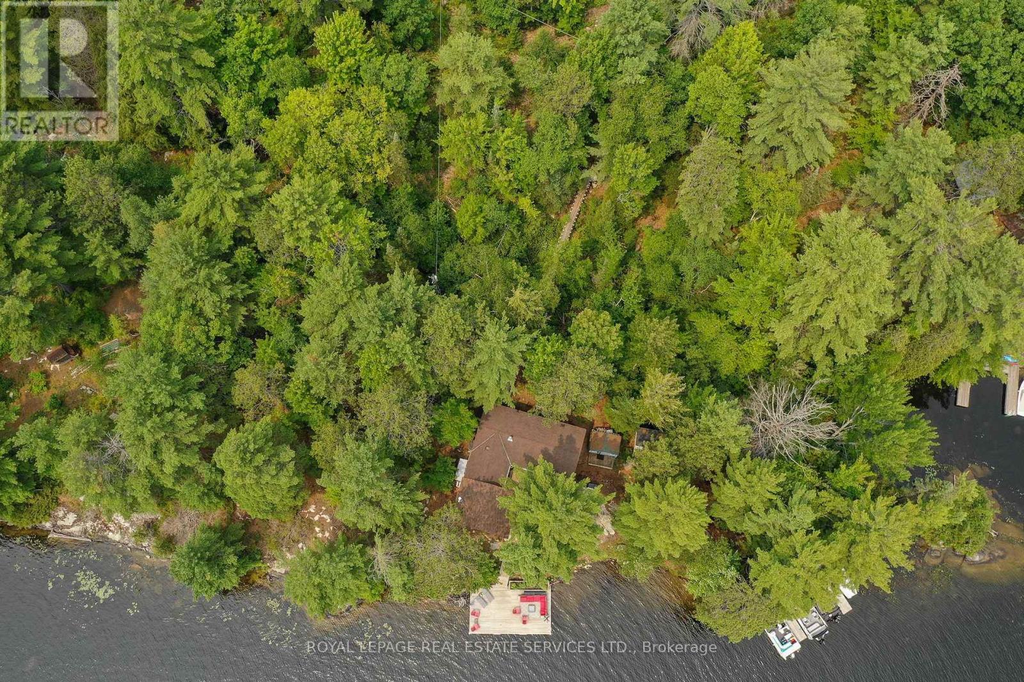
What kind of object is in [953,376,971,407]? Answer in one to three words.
pier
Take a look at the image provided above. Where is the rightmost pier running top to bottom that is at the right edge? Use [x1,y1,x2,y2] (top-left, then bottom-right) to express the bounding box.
[1001,366,1019,415]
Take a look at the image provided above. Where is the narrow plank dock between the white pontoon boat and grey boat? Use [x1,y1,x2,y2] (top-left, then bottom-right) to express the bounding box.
[775,601,808,642]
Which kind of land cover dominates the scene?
trees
